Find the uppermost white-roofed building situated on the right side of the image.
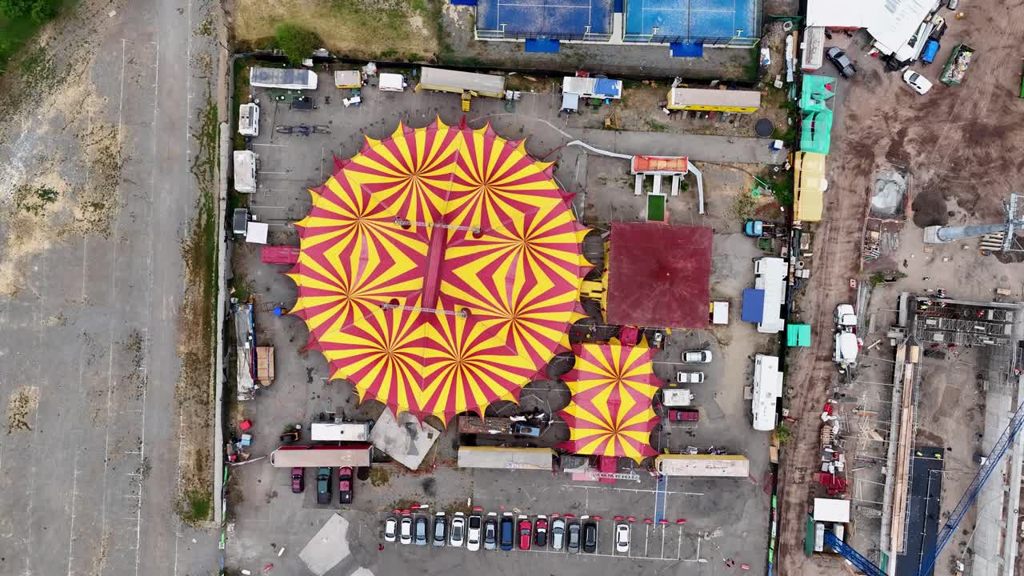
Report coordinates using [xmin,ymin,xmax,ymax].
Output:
[806,0,940,62]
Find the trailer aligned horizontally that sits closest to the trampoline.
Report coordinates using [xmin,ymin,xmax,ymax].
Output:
[662,88,760,113]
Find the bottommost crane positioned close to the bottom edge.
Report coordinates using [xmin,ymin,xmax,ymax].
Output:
[800,496,901,576]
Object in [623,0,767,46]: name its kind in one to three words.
sports court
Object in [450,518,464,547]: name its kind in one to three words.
car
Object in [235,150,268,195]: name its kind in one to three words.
camper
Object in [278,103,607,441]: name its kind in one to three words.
tent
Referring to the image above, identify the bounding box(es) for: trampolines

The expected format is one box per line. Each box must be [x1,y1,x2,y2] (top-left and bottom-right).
[755,118,775,137]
